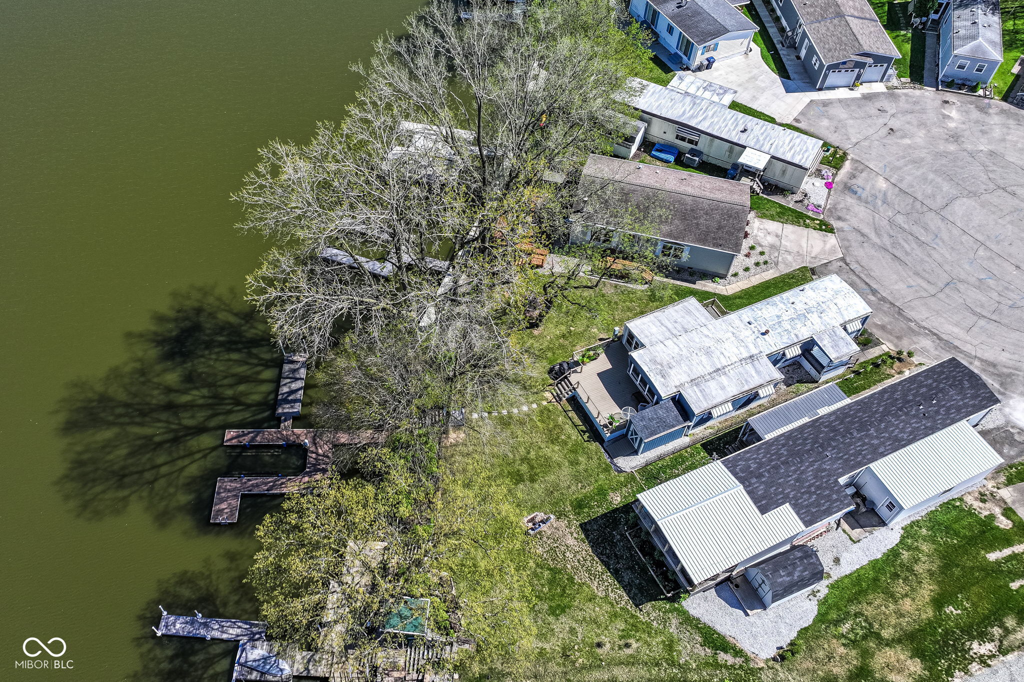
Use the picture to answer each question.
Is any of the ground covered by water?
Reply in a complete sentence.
Yes, there's water in this view.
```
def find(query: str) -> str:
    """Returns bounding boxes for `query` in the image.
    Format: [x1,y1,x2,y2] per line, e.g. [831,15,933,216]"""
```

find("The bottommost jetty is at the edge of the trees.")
[223,641,300,682]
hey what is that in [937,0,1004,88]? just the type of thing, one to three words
house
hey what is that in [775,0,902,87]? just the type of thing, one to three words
house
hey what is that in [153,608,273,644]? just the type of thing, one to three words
pier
